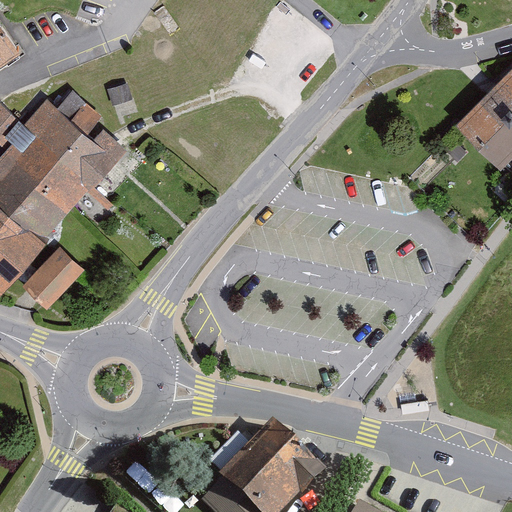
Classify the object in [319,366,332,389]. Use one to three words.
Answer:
vehicle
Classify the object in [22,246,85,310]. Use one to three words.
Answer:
barn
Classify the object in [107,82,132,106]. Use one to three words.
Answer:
shed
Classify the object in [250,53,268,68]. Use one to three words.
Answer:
vehicle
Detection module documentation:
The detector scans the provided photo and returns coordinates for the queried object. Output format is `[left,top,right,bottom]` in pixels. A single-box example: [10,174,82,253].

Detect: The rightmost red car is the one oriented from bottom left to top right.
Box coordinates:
[394,240,417,258]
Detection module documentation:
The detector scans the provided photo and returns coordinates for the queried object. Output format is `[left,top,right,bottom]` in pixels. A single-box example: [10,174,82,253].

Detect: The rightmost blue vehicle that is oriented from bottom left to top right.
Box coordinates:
[352,323,373,343]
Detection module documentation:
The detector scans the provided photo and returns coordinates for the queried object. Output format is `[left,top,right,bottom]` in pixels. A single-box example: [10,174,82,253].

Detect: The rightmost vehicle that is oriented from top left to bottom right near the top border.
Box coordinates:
[312,8,333,30]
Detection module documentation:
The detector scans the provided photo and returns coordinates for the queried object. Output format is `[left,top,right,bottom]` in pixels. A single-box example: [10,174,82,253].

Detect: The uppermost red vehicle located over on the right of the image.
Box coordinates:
[298,62,317,82]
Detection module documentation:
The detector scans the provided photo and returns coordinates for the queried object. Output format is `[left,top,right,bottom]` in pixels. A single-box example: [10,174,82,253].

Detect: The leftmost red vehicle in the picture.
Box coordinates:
[37,16,54,37]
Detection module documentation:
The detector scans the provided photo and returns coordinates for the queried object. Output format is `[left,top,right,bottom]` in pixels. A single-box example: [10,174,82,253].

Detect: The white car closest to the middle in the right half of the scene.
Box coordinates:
[328,220,346,240]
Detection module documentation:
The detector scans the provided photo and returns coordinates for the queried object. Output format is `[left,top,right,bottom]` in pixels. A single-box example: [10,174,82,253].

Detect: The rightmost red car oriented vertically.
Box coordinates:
[344,176,356,198]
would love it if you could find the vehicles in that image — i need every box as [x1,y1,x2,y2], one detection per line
[328,220,346,240]
[403,488,419,510]
[494,42,512,56]
[434,452,455,466]
[380,476,396,496]
[37,16,54,37]
[372,180,386,206]
[254,206,274,226]
[124,118,148,134]
[240,276,260,297]
[364,328,386,348]
[312,8,333,30]
[288,496,304,512]
[150,107,174,123]
[306,441,326,461]
[81,1,104,16]
[394,240,417,258]
[344,176,356,198]
[424,497,442,512]
[26,20,42,41]
[352,323,373,343]
[298,62,317,82]
[366,250,378,274]
[319,366,332,389]
[416,248,432,274]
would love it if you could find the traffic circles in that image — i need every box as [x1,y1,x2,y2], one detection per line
[88,358,142,412]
